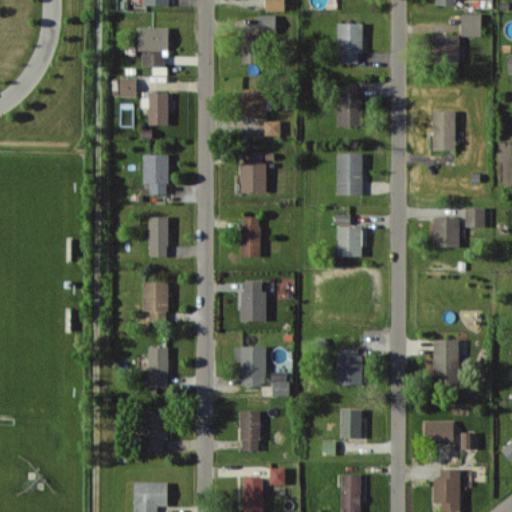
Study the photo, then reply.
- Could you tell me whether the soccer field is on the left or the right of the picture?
left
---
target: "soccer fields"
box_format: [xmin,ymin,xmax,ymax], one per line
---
[0,154,82,512]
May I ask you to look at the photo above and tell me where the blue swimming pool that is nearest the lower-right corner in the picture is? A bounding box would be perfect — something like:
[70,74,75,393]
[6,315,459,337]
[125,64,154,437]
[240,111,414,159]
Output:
[444,311,459,325]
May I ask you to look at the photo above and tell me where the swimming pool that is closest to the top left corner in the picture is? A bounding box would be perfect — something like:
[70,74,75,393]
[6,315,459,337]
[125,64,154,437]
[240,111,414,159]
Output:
[120,103,134,128]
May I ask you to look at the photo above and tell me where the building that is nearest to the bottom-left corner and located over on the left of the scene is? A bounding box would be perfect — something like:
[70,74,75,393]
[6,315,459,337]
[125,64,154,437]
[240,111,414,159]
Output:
[133,482,168,512]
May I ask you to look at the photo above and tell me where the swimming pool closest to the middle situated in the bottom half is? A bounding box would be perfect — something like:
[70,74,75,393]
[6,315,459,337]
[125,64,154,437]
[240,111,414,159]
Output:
[272,348,289,364]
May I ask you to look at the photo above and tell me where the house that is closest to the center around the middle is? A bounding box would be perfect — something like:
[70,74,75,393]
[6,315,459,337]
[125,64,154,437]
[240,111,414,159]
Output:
[240,216,262,258]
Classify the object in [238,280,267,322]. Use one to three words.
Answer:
house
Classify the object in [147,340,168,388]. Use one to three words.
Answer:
house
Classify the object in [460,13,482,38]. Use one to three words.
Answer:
building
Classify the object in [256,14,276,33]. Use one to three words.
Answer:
building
